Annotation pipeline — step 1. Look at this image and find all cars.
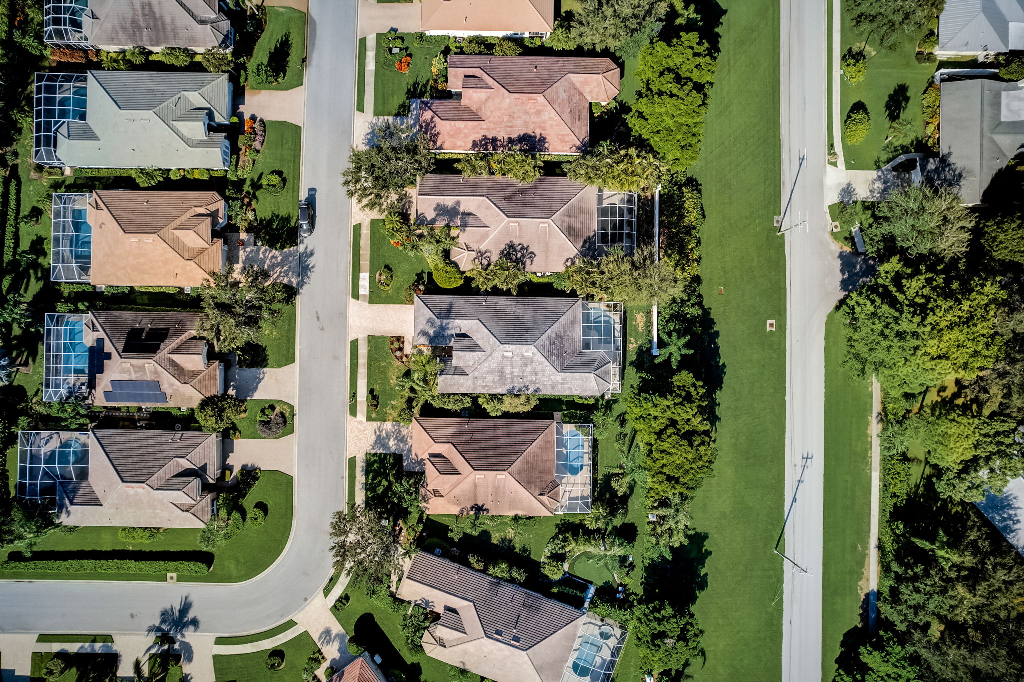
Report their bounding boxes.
[297,198,316,237]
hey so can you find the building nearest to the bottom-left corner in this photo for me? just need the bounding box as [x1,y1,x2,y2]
[57,430,221,529]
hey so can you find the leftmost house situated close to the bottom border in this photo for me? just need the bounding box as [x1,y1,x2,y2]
[328,653,387,682]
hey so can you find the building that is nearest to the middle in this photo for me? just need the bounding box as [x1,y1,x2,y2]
[414,296,612,395]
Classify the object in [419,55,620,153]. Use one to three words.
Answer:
house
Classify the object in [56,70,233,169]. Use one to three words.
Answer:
house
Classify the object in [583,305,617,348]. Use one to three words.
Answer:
swimming pool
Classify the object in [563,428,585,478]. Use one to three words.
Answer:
swimming pool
